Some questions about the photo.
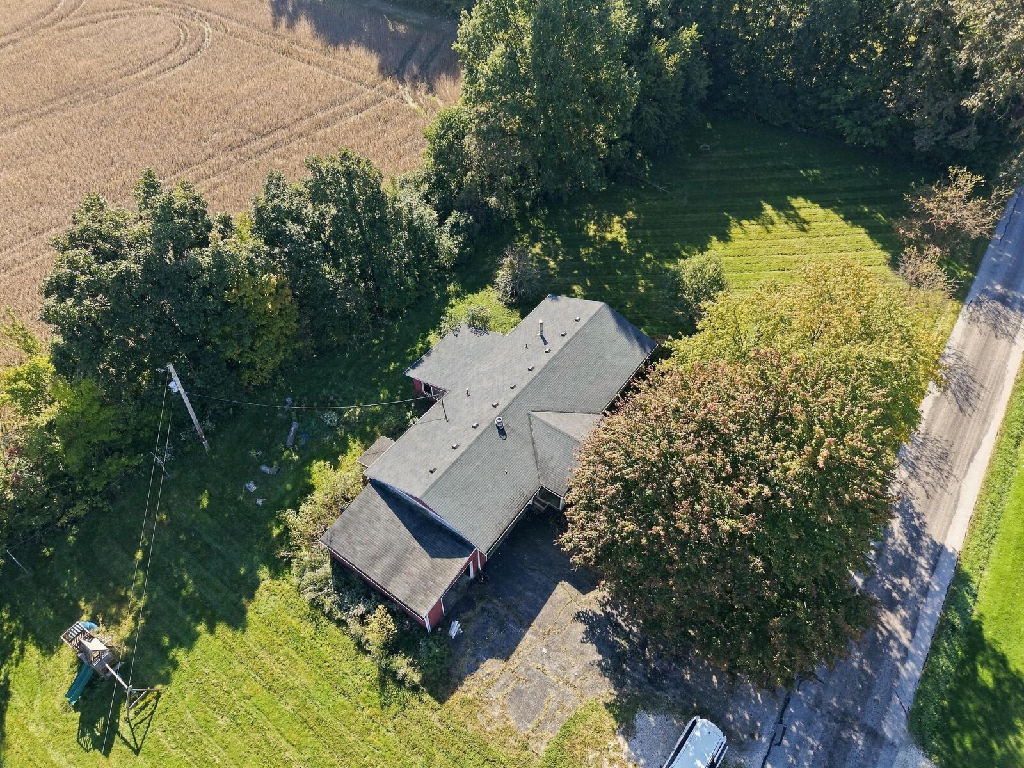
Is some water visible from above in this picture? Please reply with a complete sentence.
No, there is no water in the image.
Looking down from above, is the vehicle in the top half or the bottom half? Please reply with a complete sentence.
It is in the bottom half that the vehicle appears.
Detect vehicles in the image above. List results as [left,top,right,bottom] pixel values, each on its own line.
[661,718,725,768]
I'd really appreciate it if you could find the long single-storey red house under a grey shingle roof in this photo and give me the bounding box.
[318,293,659,629]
